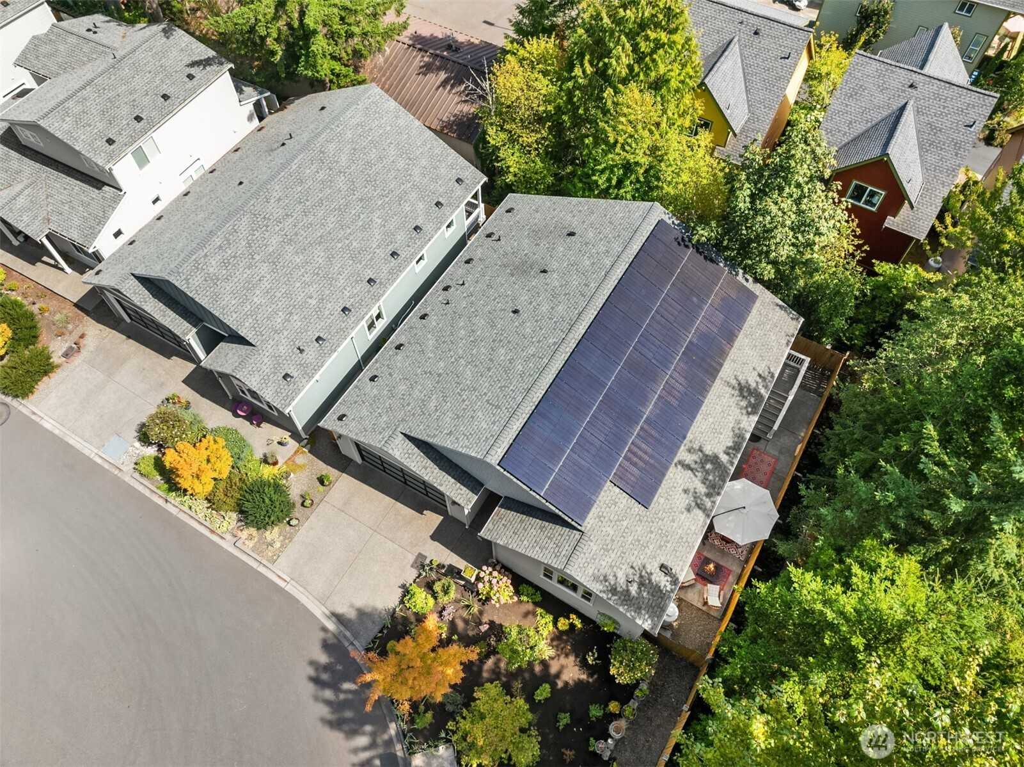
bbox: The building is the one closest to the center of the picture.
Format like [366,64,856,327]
[316,192,805,638]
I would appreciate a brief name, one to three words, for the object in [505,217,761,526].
solar array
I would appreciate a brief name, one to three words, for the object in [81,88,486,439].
house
